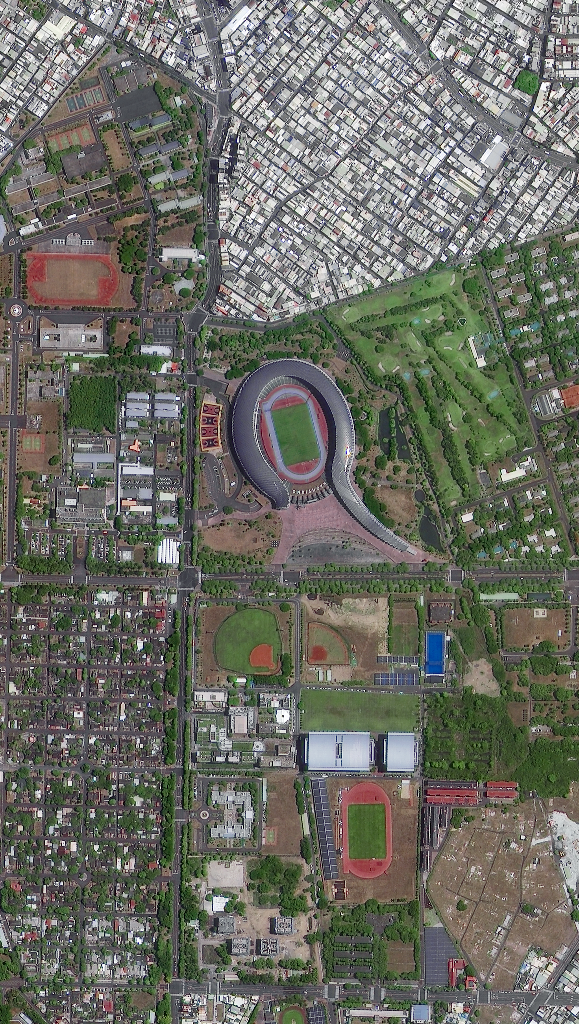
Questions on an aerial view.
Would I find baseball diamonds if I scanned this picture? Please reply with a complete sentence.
Yes, the photo shows a baseball diamond.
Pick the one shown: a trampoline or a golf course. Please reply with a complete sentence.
The one in the frame is a golf course.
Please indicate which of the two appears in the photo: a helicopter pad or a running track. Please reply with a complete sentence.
Visible in the photo is a running track.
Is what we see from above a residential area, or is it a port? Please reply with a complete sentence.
What you see here is a residential area.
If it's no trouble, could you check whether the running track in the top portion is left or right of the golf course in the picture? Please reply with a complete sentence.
The running track in the top portion is to the left of the golf course.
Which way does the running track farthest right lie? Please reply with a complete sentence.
What the image shows is the running track farthest right lying vertically.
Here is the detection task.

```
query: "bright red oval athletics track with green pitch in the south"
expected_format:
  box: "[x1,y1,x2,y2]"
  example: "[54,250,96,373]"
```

[343,783,392,880]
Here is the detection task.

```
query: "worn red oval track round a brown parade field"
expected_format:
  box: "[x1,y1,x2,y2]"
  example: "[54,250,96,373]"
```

[27,252,119,305]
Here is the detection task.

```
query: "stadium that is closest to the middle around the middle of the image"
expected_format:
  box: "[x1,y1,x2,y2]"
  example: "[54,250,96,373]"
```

[232,358,417,555]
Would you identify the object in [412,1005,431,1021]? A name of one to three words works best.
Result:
shed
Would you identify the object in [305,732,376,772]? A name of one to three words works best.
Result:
building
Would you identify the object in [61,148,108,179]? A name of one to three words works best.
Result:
building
